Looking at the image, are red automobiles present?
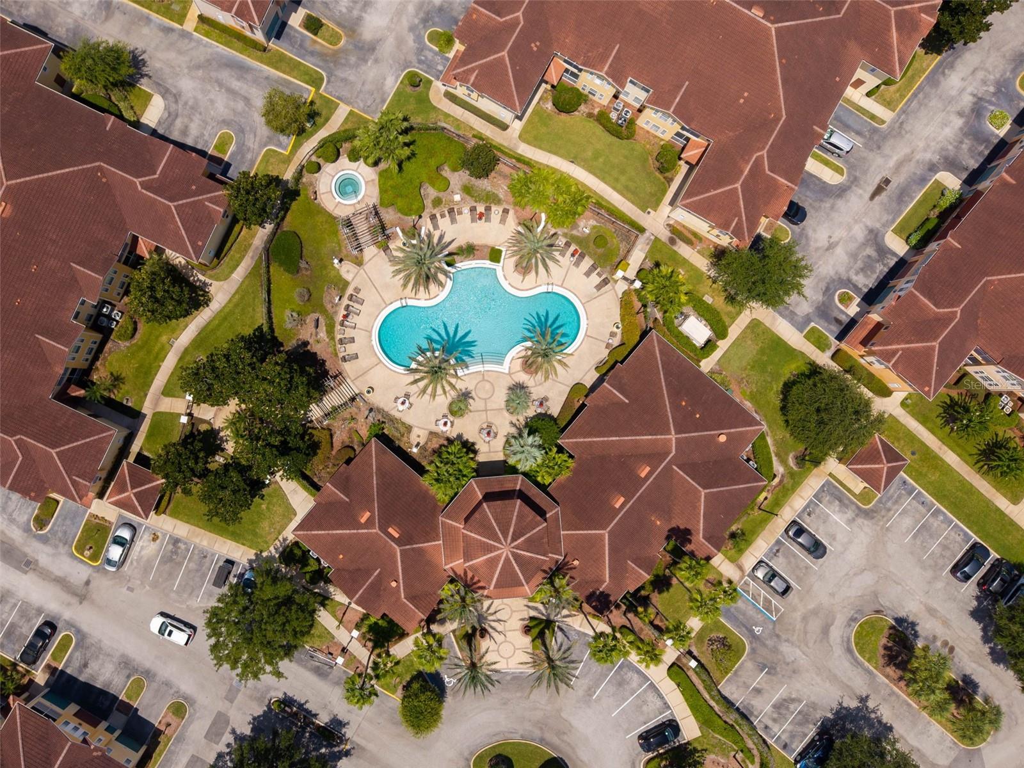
No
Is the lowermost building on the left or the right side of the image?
left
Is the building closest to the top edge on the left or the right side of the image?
left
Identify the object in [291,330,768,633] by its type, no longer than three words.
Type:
building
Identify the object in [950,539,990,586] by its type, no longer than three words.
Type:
car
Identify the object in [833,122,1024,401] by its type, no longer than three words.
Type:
building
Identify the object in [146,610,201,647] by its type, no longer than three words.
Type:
car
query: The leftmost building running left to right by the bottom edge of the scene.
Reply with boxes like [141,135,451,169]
[0,687,183,768]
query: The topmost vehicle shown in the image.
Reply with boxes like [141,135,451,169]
[816,127,858,159]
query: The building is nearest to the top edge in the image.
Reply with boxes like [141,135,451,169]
[200,0,292,42]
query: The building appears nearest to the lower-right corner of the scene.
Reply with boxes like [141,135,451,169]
[833,433,910,496]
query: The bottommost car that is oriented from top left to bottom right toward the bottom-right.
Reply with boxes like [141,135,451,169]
[748,558,796,601]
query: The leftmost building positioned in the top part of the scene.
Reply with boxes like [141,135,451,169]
[0,17,235,509]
